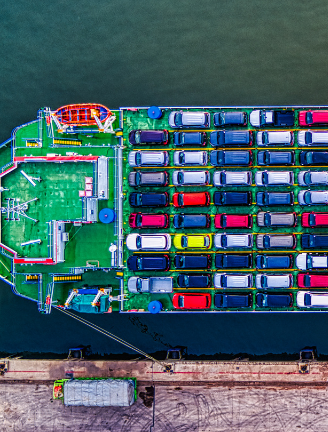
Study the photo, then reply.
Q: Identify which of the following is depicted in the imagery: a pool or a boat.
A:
boat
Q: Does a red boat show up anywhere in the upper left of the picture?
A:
Yes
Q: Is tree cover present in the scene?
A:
No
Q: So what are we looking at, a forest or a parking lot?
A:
parking lot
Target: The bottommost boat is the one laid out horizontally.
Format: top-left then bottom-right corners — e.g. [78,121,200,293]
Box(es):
[64,293,116,312]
